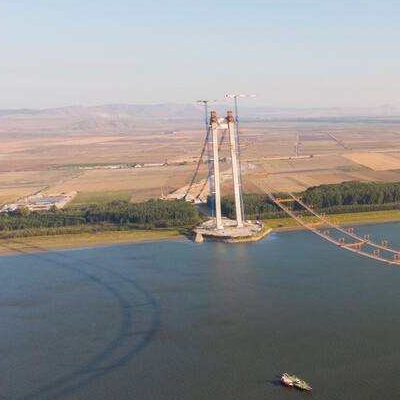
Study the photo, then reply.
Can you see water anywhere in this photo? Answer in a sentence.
Yes, the picture does contain water.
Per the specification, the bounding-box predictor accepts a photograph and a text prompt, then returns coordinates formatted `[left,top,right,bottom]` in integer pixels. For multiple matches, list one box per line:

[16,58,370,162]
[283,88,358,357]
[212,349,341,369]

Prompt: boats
[289,377,315,390]
[278,376,296,389]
